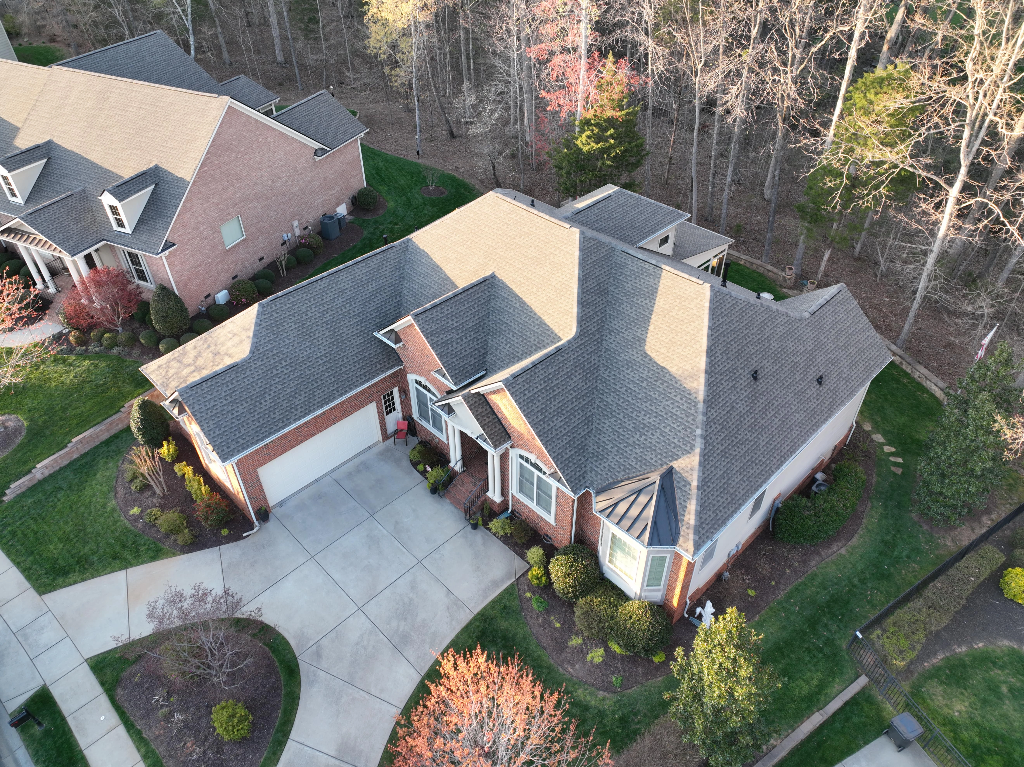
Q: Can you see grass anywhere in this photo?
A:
Yes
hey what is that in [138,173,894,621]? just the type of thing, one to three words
house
